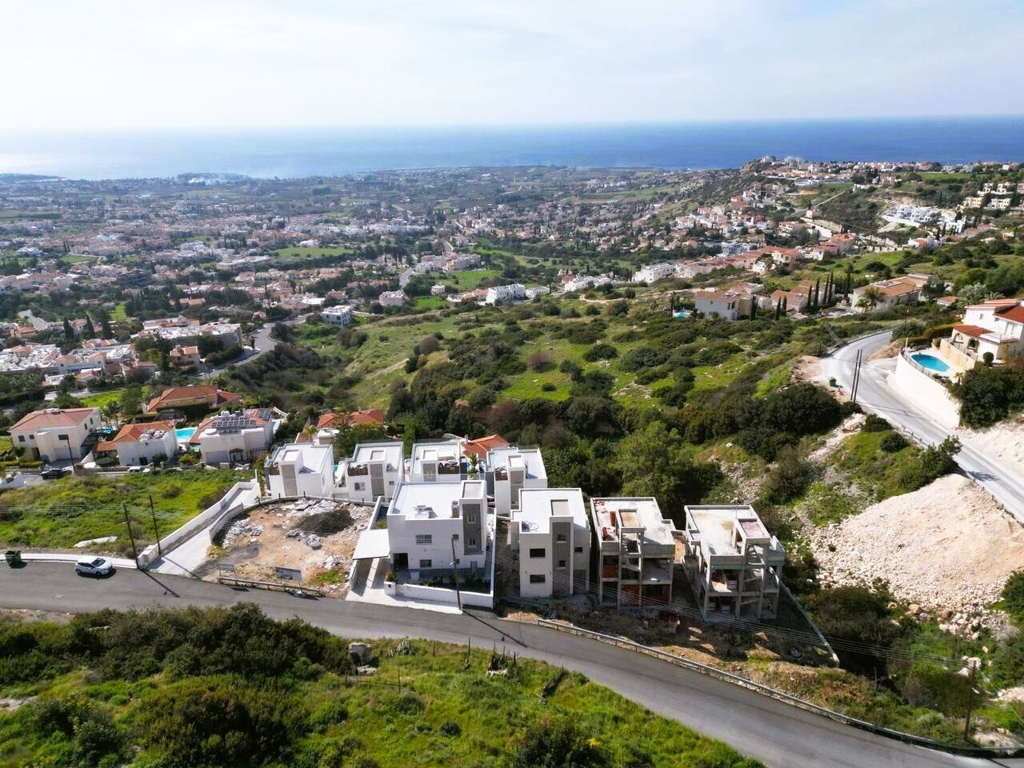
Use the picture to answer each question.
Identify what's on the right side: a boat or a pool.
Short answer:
pool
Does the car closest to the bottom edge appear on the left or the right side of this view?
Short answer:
left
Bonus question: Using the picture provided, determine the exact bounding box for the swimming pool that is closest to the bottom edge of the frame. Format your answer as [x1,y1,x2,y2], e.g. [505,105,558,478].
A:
[375,497,394,520]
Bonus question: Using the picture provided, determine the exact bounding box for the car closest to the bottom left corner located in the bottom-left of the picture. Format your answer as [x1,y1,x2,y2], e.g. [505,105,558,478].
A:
[71,557,115,579]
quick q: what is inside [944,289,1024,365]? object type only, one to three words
house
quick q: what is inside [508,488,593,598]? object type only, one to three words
house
